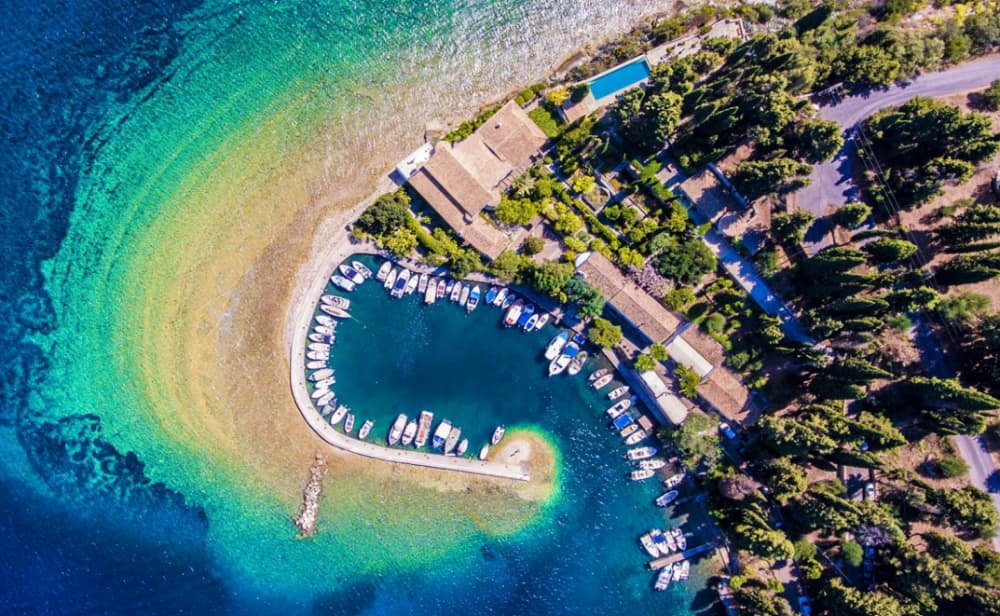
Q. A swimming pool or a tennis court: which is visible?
swimming pool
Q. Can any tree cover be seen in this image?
Yes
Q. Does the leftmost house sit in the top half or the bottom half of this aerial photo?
top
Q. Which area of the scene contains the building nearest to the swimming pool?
top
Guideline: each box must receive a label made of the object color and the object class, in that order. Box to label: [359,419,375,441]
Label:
white boat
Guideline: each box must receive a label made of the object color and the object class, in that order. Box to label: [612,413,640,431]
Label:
blue boat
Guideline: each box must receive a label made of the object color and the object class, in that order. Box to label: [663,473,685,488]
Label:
white boat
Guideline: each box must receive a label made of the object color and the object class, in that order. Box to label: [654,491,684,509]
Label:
blue boat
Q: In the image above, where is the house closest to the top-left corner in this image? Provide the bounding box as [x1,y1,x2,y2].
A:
[409,100,548,260]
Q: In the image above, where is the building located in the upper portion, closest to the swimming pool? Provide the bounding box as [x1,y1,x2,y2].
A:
[564,98,592,125]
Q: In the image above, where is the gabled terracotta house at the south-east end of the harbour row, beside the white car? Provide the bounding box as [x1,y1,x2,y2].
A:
[695,369,752,421]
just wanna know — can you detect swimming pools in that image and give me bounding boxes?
[587,56,653,103]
